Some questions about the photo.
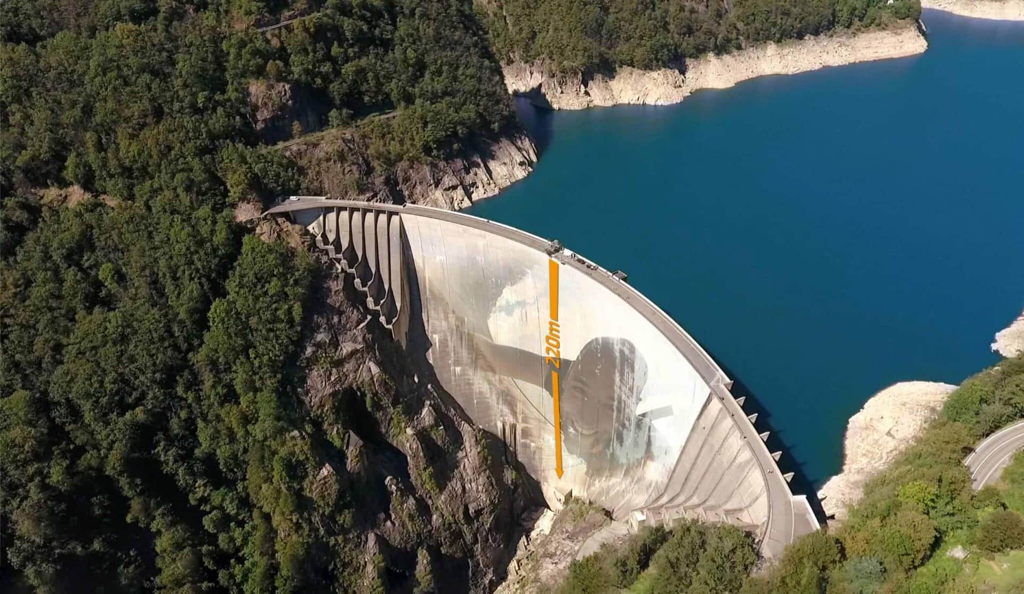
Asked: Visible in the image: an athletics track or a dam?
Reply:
dam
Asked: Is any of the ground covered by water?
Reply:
Yes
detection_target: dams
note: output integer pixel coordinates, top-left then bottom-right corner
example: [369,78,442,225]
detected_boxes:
[270,198,806,552]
